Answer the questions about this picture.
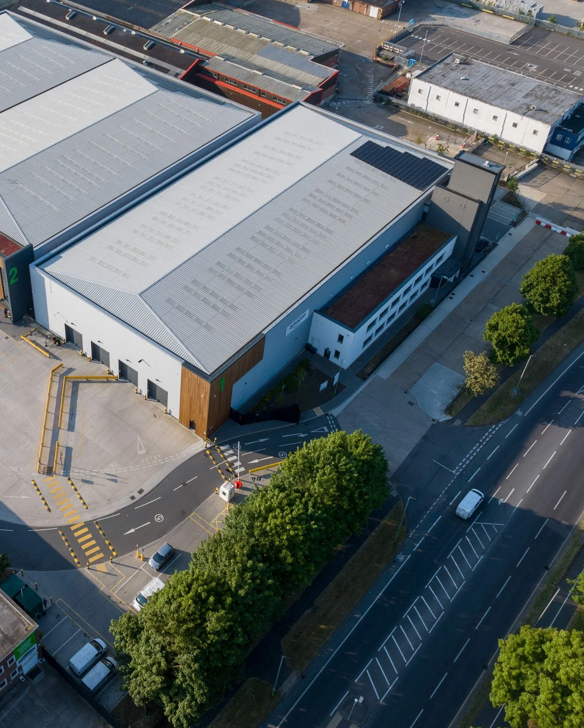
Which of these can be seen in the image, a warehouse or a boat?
warehouse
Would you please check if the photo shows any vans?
Yes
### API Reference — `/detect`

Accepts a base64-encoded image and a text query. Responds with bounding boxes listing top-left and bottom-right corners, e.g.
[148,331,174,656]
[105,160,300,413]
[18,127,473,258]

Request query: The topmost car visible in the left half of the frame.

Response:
[146,542,176,575]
